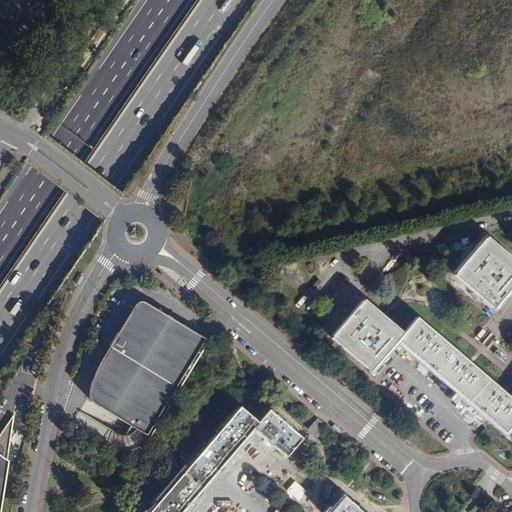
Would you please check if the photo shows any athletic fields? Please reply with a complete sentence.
No, there isn't any athletic field down there.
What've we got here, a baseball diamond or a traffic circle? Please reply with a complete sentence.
The one in the frame is a traffic circle.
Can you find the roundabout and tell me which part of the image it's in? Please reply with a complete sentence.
The roundabout sits in the left section of the image.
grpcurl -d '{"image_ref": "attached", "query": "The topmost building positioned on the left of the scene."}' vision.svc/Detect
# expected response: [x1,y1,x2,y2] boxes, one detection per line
[90,302,204,432]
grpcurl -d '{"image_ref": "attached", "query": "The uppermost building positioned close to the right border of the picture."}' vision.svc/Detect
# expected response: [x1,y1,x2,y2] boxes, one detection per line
[454,236,512,310]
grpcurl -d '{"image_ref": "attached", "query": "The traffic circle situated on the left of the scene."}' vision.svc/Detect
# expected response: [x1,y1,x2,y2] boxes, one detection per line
[106,201,167,264]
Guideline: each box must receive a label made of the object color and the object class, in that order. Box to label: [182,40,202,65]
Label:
white vehicle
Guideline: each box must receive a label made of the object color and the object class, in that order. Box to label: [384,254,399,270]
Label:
white vehicle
